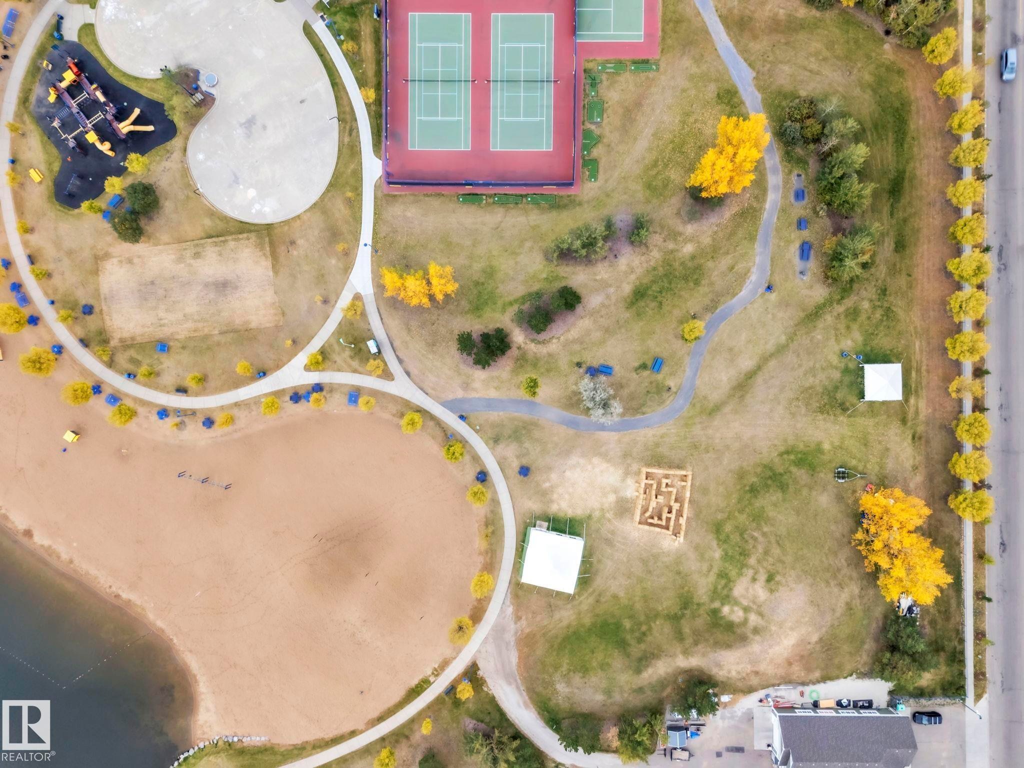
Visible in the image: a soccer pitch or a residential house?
residential house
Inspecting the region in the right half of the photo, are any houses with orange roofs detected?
No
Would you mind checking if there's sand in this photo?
Yes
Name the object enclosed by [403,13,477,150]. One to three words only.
tennis court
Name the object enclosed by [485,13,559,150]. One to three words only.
tennis court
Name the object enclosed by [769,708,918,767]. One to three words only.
house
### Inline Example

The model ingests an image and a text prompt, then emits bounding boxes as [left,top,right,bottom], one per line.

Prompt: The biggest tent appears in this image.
[518,512,594,601]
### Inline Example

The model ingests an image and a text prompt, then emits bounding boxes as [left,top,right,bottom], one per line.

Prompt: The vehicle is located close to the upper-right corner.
[999,50,1016,81]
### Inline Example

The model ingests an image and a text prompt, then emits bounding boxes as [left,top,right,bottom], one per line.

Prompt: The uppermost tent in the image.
[846,351,909,413]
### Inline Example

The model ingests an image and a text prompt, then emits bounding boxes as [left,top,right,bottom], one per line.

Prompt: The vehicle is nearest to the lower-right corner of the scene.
[911,710,940,725]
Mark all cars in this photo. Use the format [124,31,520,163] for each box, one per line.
[999,50,1016,81]
[911,710,940,725]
